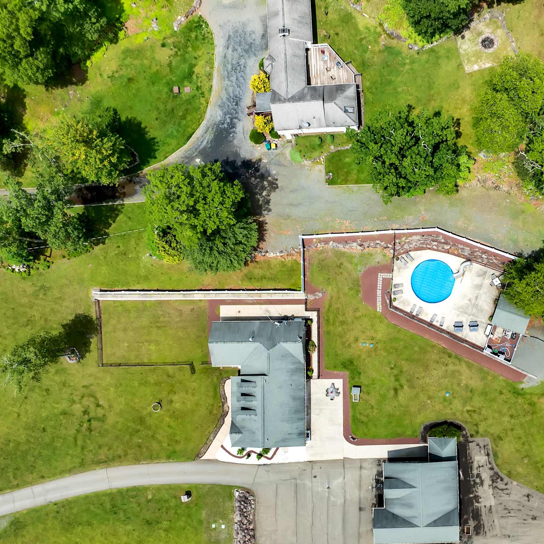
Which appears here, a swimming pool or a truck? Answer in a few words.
swimming pool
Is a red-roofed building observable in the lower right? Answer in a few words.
No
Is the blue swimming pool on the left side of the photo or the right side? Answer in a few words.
right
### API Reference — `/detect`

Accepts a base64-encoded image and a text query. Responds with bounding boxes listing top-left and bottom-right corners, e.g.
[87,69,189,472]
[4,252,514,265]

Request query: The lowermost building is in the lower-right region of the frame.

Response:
[373,461,460,544]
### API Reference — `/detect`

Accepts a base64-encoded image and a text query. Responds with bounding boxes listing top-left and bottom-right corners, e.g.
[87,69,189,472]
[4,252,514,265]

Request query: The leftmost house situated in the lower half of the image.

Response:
[208,321,308,448]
